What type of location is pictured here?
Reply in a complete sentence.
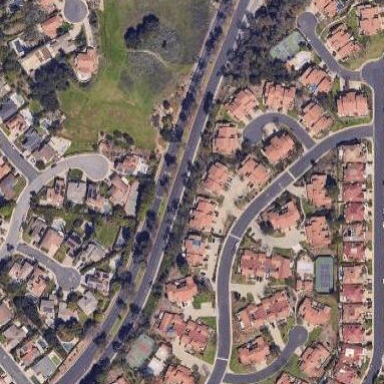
This looks like a residential area.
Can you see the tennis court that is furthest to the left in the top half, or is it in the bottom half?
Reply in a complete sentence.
Seen from above, the tennis court that is furthest to the left lies in the bottom half of the view.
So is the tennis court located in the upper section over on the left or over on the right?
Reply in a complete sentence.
The tennis court located in the upper section is on the right side of the image.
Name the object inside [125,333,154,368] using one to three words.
tennis court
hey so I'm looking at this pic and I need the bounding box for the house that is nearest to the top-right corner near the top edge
[359,4,383,35]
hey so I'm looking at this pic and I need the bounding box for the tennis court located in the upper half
[270,28,304,60]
